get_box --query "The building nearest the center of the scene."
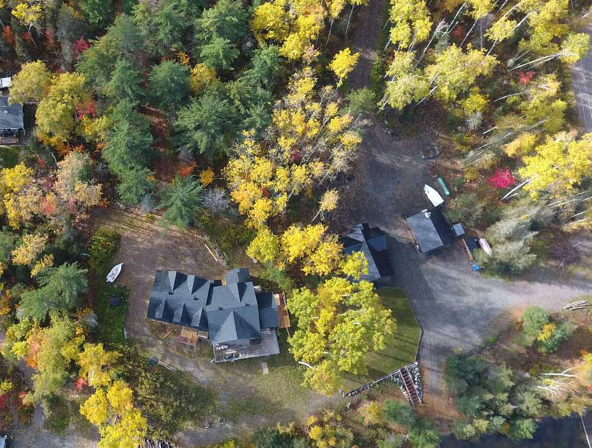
[333,223,396,291]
